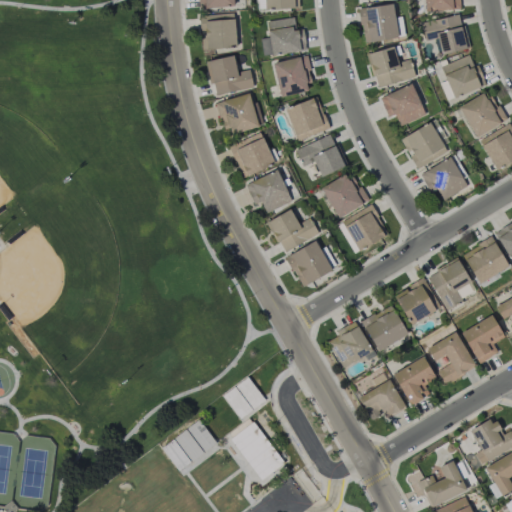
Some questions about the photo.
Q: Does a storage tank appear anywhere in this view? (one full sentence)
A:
No, I find no storage tank anywhere in the image.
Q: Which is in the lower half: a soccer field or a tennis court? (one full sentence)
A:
There is a tennis court in the lower half.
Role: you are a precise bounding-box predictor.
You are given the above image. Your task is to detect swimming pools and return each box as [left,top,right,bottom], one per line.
[415,320,436,332]
[346,362,366,377]
[276,114,292,136]
[424,43,432,58]
[406,42,417,57]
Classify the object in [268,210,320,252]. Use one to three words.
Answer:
house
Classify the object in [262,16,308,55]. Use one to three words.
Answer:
house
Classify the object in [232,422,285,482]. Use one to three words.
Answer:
building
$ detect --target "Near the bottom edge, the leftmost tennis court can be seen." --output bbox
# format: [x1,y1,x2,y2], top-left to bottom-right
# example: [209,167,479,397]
[0,432,20,504]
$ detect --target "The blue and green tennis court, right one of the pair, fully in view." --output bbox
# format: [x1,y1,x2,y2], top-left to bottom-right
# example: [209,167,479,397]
[16,436,57,508]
